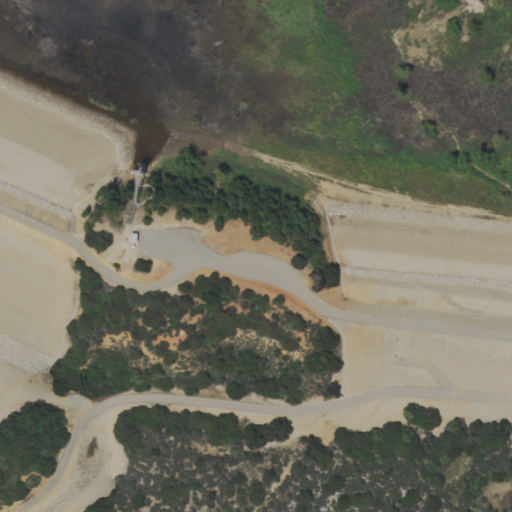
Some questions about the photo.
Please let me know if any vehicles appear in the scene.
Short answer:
No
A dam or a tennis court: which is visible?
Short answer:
dam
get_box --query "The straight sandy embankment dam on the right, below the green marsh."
[324,200,512,397]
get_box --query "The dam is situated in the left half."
[0,70,137,374]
